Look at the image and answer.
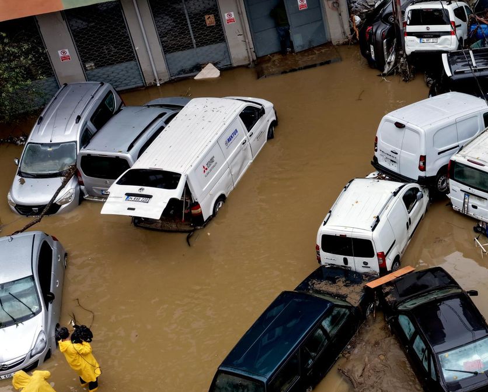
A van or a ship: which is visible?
van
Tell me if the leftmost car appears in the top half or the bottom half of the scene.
bottom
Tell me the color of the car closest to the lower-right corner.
black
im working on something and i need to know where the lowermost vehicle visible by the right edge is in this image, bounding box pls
[379,265,488,392]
